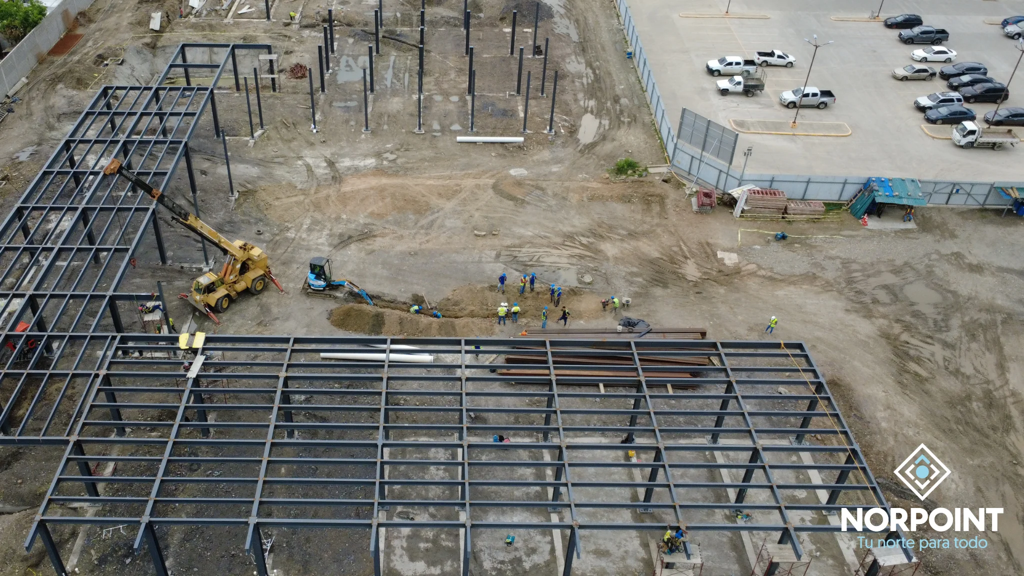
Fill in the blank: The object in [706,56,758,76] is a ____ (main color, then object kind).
white vehicle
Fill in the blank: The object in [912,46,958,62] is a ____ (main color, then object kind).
white car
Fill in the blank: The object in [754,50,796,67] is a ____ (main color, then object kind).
white vehicle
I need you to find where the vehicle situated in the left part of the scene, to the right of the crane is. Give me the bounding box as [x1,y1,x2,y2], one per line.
[301,257,377,307]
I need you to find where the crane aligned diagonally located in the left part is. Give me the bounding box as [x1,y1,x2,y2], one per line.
[106,166,285,328]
